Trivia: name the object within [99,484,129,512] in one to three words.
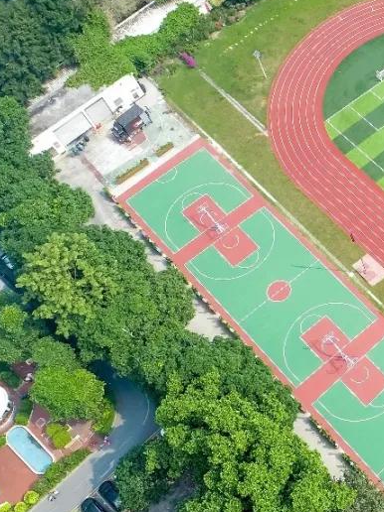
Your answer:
car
